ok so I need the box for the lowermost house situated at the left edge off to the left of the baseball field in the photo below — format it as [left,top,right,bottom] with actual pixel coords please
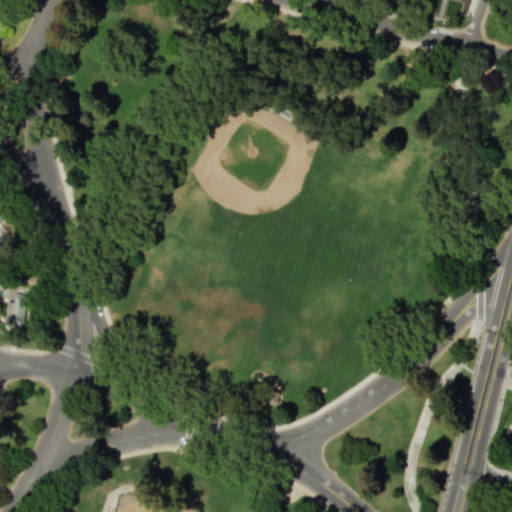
[4,292,26,326]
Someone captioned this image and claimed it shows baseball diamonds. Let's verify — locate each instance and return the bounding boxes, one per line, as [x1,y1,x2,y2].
[188,107,424,352]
